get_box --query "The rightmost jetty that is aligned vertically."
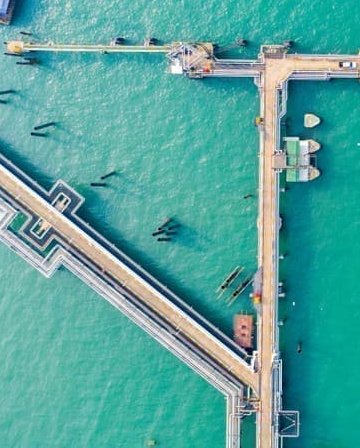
[252,82,304,448]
